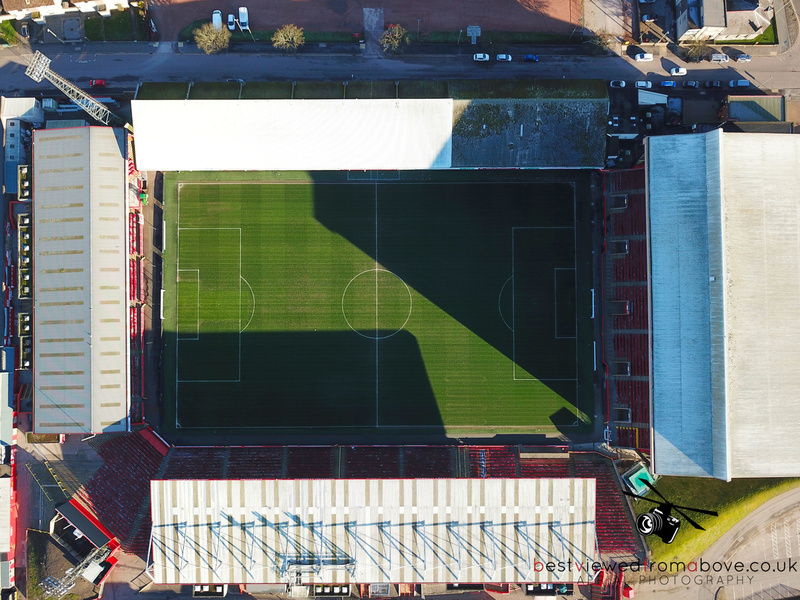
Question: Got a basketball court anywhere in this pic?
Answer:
No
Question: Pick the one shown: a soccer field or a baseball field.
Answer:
soccer field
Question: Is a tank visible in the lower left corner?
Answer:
No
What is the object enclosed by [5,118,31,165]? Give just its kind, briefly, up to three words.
shed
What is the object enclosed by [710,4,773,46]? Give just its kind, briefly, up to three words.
house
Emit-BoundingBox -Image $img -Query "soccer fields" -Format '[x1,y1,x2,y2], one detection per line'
[162,171,593,433]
